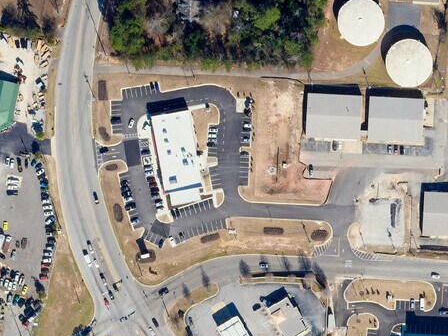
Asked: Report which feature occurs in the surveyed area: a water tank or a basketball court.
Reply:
water tank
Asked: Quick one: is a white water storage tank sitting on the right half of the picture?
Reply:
Yes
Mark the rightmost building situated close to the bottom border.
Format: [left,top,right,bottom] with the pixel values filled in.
[267,298,308,336]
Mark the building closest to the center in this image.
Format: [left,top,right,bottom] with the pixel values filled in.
[150,103,206,206]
